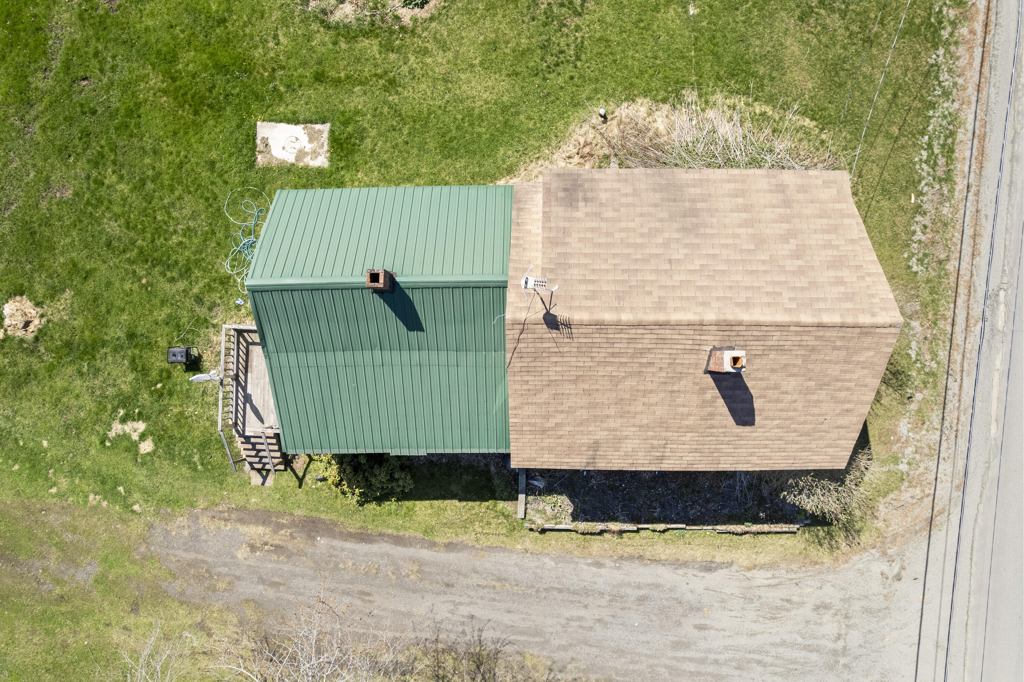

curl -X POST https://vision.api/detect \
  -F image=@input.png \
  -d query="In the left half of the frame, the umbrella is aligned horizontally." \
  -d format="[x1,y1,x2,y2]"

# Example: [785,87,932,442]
[196,369,234,384]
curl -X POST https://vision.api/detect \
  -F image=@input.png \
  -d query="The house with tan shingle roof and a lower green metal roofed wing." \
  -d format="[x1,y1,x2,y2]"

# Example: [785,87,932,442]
[244,168,902,471]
